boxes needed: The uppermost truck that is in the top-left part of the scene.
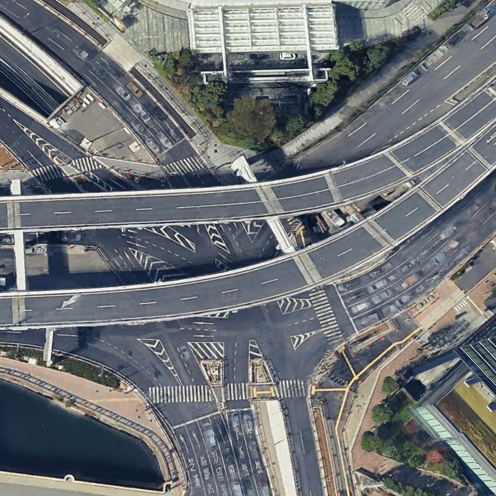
[107,10,129,35]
